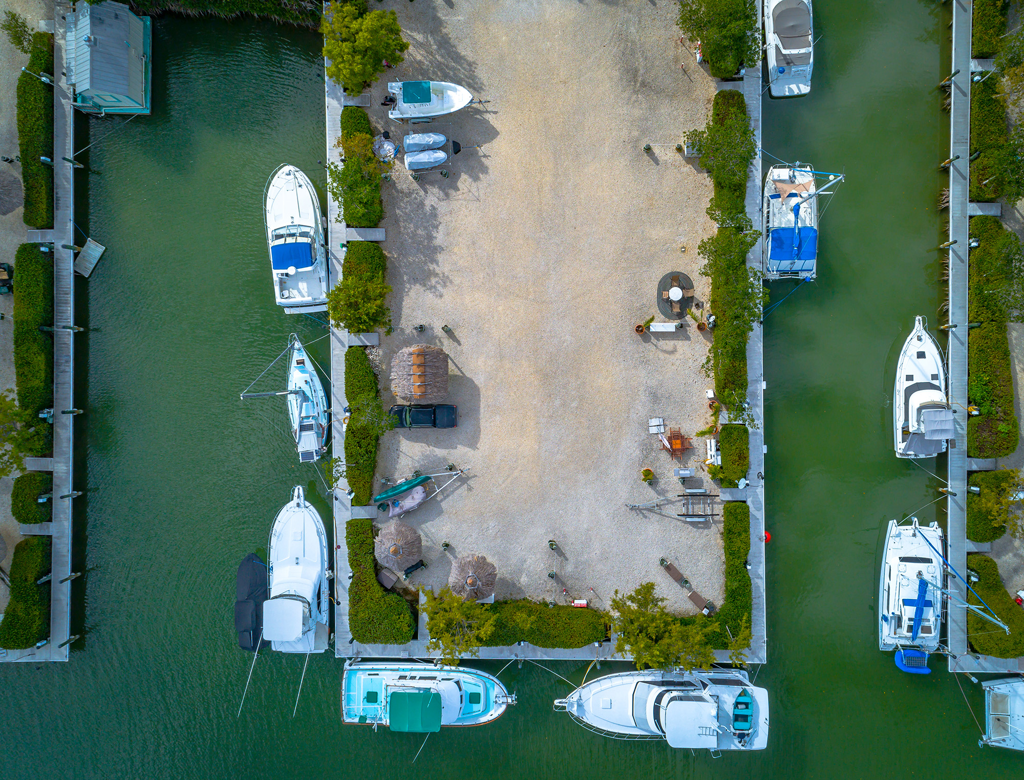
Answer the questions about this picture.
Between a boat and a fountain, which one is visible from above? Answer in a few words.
boat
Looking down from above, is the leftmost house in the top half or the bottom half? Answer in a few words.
top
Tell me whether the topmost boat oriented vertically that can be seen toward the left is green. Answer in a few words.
No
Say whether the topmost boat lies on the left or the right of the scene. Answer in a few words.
right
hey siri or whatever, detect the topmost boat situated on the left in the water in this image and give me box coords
[263,163,330,314]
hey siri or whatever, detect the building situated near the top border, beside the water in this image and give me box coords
[66,0,156,118]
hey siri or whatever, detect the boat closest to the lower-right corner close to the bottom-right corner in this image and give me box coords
[979,674,1024,751]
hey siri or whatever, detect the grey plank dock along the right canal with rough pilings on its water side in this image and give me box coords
[946,0,1024,673]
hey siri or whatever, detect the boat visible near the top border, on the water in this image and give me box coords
[762,0,822,97]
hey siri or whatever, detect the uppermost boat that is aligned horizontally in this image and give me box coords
[380,81,473,120]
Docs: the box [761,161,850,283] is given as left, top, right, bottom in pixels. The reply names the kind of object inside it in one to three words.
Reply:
boat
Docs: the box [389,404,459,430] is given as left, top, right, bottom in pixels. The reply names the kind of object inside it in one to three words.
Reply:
truck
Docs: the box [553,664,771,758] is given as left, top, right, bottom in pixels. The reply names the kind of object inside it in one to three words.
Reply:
boat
